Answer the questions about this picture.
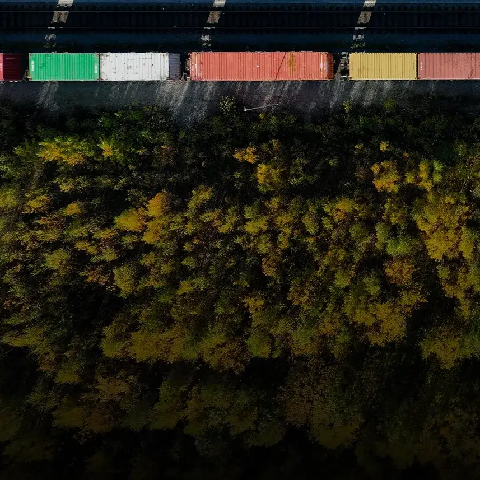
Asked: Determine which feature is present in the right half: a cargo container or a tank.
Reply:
cargo container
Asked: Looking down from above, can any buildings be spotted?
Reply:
No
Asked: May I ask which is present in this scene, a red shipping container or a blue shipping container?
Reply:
red shipping container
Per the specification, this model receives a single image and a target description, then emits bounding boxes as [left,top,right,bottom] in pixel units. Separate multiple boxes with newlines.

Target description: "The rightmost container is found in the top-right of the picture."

[418,53,480,80]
